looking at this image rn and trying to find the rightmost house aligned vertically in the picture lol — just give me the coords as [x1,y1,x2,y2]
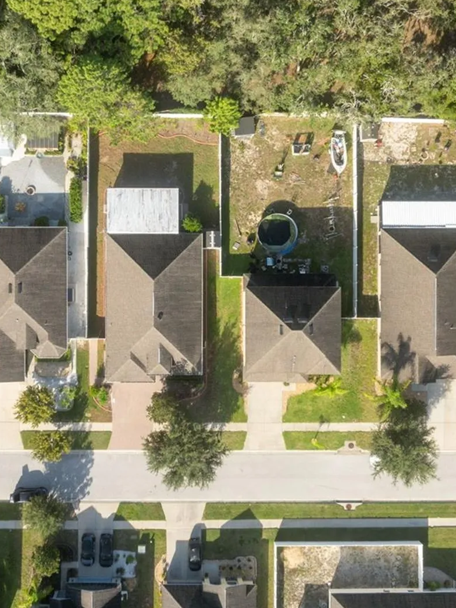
[377,201,456,385]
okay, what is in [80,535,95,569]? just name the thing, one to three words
car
